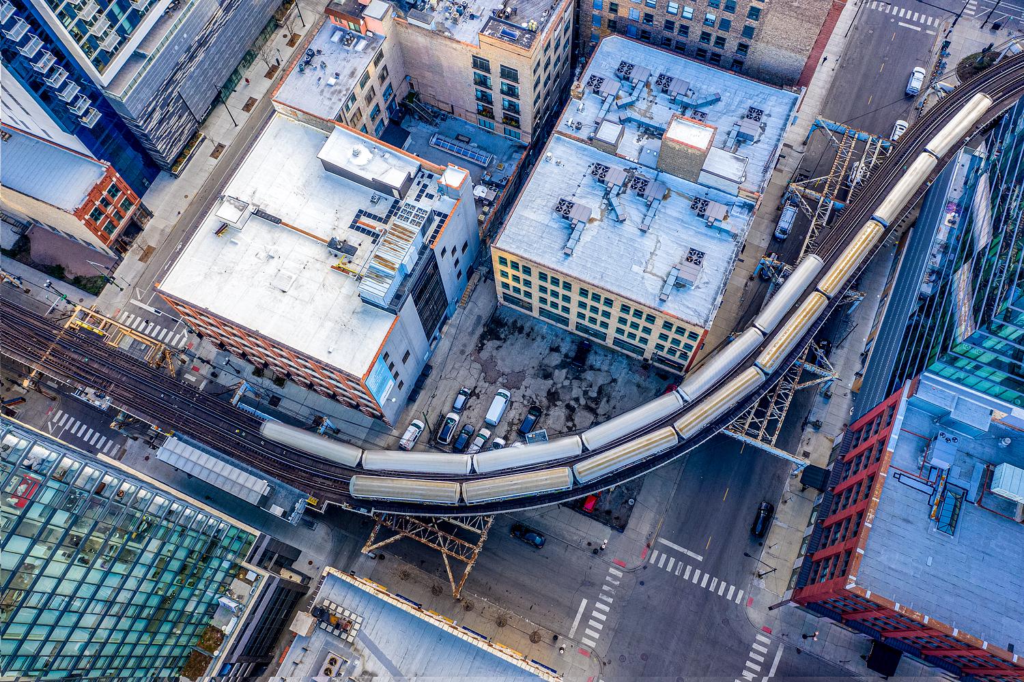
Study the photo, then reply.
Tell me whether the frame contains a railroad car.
Yes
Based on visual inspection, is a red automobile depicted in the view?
Yes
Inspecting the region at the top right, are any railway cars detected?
Yes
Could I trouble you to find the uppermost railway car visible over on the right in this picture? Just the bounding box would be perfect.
[919,101,991,170]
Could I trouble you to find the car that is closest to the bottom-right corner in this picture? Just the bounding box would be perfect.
[751,502,773,537]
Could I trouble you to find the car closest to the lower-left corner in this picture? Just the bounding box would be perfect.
[399,419,423,451]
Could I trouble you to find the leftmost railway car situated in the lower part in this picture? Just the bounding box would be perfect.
[266,421,366,472]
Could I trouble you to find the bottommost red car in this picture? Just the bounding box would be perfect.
[580,490,600,518]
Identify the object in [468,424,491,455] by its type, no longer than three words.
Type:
car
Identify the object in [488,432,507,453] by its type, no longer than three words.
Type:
car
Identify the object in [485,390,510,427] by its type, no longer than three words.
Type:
vehicle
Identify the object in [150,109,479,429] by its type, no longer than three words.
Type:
building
